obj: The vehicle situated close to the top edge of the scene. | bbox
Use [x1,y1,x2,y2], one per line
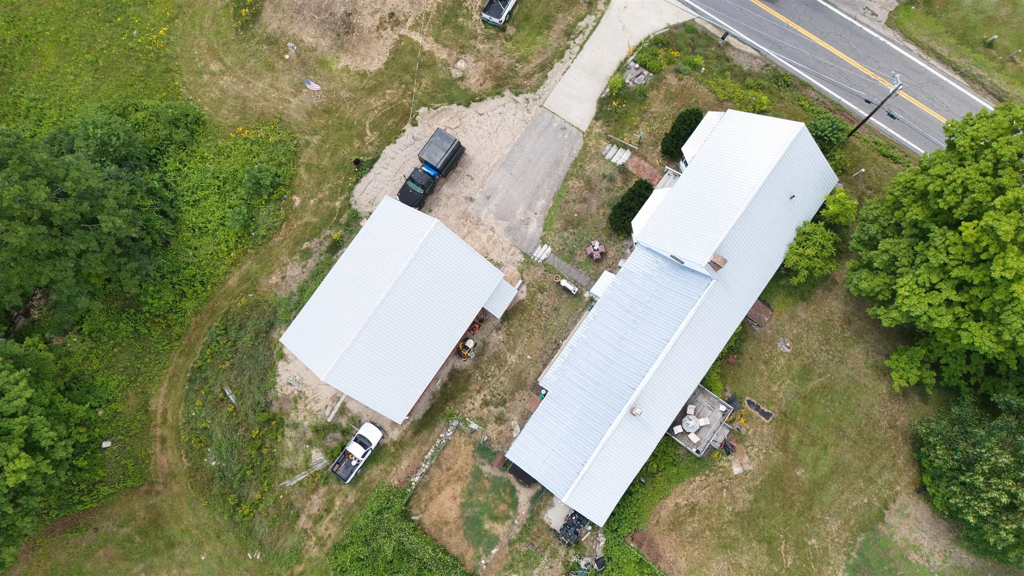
[483,0,513,26]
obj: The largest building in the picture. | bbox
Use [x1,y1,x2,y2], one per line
[505,110,838,528]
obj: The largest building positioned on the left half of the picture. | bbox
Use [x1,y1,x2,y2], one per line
[280,196,519,425]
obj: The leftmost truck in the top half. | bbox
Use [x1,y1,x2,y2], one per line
[399,128,463,210]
